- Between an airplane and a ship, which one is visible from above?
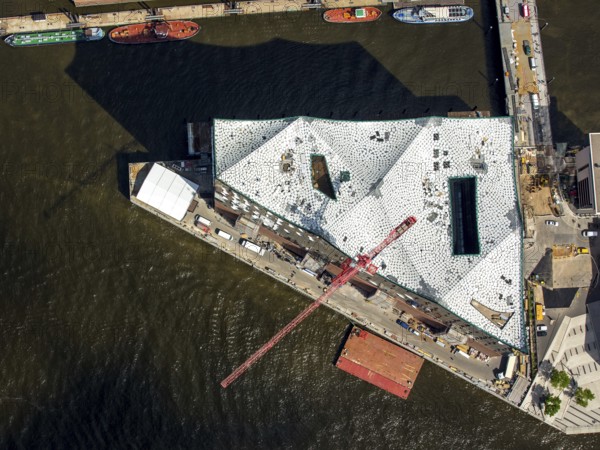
ship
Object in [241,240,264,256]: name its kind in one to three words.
vehicle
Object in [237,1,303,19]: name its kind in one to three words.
pier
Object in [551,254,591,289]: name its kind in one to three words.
building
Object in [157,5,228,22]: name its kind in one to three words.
pier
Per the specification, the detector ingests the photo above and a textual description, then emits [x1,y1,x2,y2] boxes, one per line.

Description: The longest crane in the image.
[217,215,413,386]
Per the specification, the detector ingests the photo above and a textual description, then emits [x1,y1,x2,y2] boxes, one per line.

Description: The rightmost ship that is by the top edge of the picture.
[390,0,475,24]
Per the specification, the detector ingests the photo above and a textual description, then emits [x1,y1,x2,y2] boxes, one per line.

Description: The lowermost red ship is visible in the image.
[336,358,410,399]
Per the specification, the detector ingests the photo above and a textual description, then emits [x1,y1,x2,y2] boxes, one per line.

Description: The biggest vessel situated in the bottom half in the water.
[339,326,424,388]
